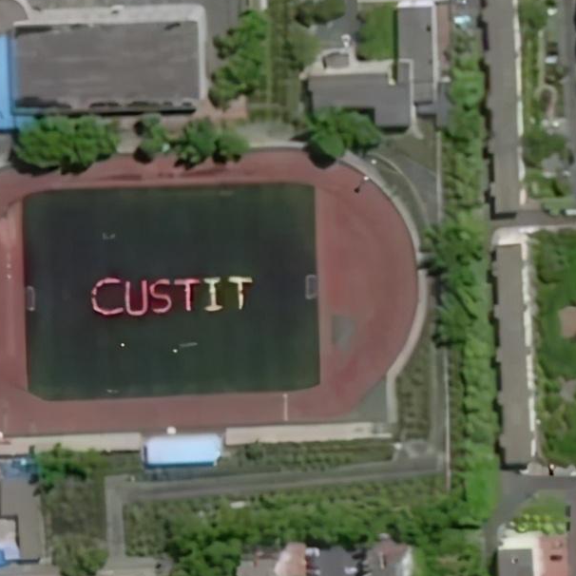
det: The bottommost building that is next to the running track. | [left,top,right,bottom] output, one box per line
[0,474,47,562]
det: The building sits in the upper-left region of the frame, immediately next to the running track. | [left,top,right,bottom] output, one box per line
[16,1,207,114]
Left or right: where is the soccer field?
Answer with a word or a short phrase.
left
